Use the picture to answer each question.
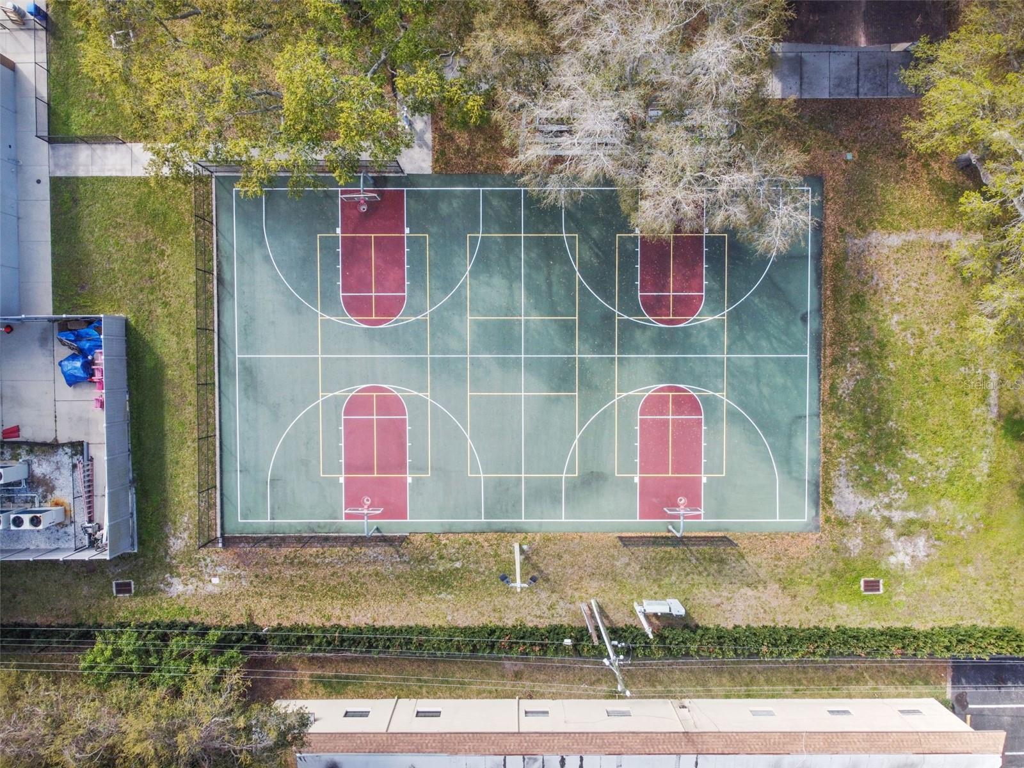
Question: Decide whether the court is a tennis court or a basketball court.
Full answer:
In the photo, the court shows up as a basketball court.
